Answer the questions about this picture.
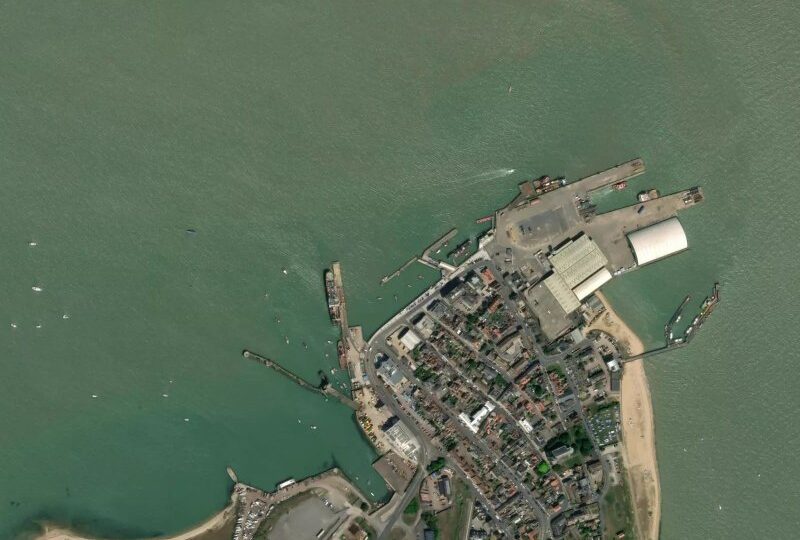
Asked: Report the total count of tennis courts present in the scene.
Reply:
0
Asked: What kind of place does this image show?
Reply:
port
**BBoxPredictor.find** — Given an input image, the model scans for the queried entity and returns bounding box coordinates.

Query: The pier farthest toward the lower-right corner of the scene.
[620,284,720,365]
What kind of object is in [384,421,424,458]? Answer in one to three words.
building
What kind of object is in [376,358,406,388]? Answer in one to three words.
building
